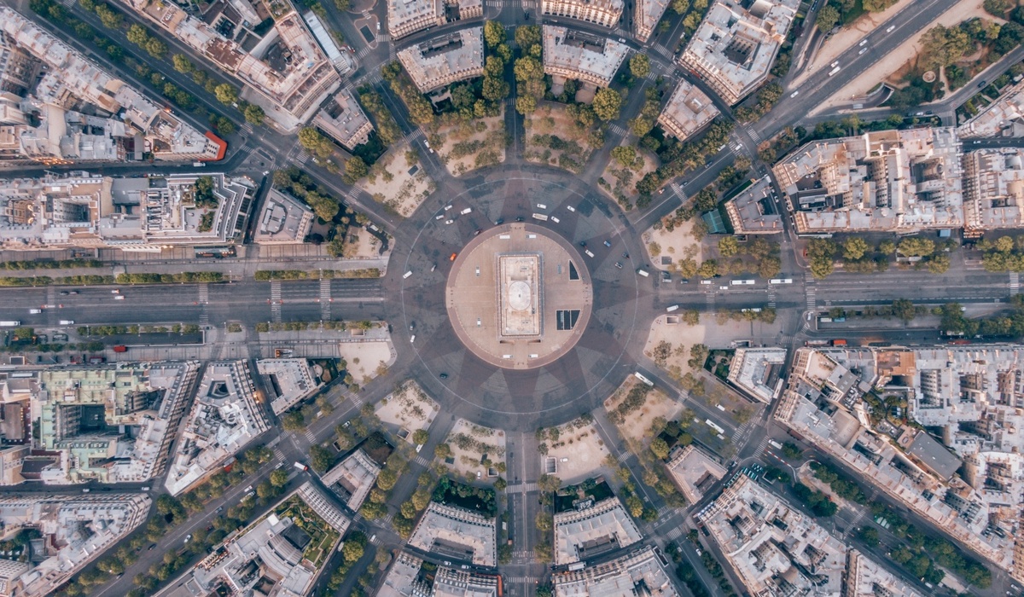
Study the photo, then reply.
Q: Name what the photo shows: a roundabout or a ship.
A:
roundabout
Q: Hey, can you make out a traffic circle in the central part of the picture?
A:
Yes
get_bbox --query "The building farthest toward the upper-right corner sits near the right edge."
[962,84,1024,145]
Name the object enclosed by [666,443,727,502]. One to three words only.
building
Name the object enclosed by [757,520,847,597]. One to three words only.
building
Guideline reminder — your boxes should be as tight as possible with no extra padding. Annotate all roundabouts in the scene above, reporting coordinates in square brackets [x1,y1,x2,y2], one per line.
[386,163,652,429]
